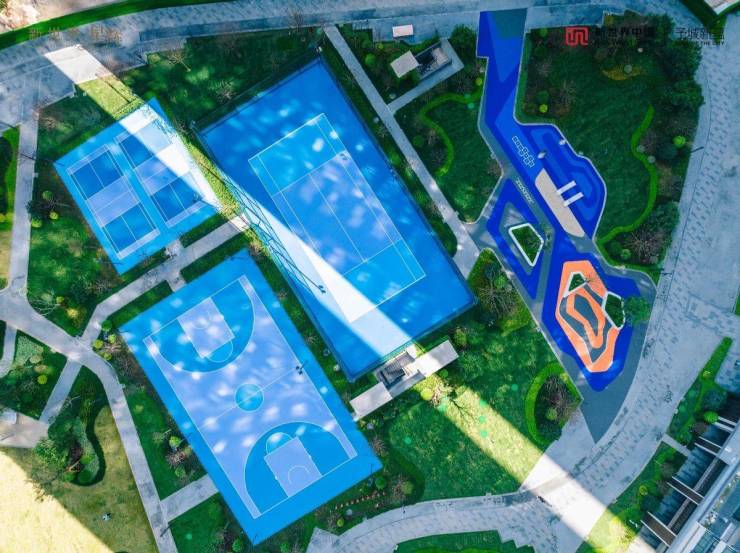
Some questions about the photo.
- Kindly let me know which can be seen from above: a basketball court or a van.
basketball court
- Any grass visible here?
Yes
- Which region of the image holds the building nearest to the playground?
top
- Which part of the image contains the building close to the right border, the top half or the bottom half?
bottom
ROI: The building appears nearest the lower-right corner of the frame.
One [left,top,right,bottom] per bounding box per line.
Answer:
[637,398,740,553]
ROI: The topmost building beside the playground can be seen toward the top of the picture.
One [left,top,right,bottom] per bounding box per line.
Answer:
[391,42,453,83]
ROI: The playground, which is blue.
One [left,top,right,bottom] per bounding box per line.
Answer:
[464,7,657,444]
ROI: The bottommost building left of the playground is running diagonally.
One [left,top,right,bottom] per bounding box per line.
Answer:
[350,340,458,418]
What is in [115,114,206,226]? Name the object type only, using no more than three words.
sports court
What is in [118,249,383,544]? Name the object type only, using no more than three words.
basketball court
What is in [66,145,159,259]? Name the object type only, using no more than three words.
sports court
